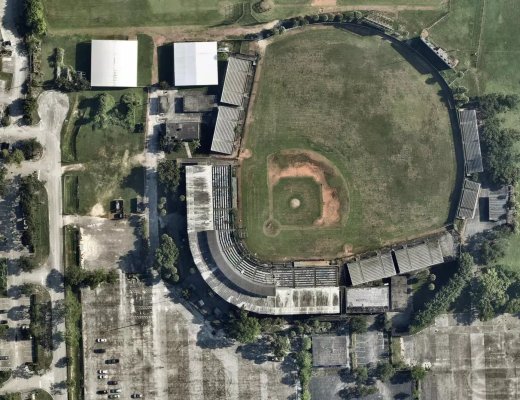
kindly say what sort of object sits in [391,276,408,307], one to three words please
building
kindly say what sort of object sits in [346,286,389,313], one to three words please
building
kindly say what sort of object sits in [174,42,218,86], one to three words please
shed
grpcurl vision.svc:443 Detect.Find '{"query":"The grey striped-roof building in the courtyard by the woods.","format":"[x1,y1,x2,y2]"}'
[488,193,508,221]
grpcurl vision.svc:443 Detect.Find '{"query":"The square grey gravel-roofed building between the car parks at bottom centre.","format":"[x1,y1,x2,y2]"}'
[312,335,348,366]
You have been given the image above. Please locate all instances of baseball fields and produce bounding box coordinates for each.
[237,25,461,264]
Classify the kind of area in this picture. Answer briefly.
sports ground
